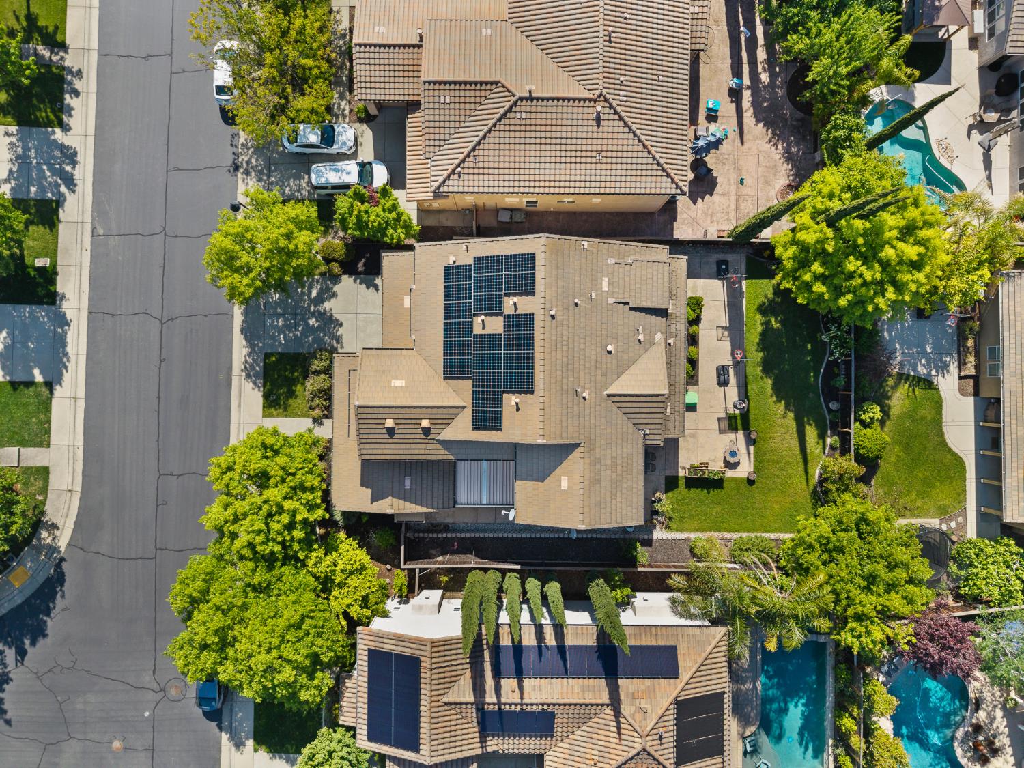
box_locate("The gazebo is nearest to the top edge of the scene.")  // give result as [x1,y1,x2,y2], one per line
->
[905,0,972,44]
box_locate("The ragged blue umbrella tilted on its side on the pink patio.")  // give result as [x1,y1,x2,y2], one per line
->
[690,133,728,153]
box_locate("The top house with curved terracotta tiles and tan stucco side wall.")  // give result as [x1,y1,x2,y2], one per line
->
[350,0,714,211]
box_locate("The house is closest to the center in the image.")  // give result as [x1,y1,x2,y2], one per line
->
[330,234,688,531]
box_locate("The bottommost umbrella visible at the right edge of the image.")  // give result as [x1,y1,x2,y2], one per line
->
[972,126,1023,150]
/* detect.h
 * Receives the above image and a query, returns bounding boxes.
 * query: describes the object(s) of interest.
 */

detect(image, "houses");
[979,268,1024,526]
[330,234,688,531]
[337,590,730,768]
[970,0,1024,237]
[350,0,714,211]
